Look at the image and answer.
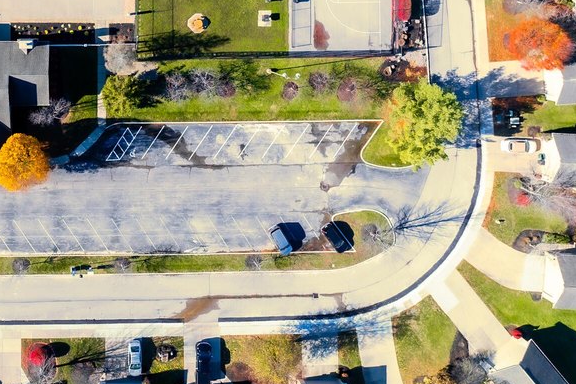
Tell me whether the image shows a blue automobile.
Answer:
Yes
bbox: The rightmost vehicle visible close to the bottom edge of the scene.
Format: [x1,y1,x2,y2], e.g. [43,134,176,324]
[197,344,215,384]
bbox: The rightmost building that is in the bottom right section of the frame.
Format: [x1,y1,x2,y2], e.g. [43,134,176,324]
[543,250,576,309]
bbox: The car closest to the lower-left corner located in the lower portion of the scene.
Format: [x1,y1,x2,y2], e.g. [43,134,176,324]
[127,343,143,378]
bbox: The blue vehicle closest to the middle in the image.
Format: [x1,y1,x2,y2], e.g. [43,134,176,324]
[270,224,295,257]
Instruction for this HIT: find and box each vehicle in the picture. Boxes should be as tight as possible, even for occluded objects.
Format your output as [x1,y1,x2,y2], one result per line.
[127,343,143,378]
[270,224,295,257]
[500,138,539,156]
[197,344,215,384]
[321,223,351,256]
